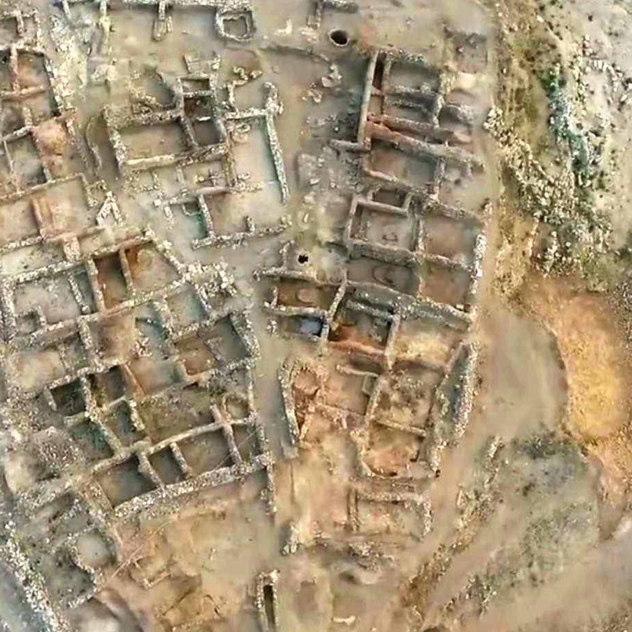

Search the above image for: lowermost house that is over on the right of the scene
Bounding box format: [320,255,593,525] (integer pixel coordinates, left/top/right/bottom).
[348,490,434,532]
